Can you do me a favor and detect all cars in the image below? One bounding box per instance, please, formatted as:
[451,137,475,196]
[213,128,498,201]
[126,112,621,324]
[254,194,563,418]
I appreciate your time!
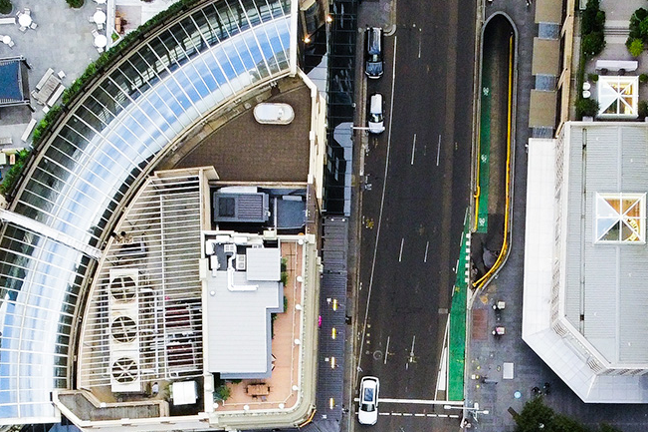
[357,376,379,426]
[365,92,386,136]
[362,27,385,80]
